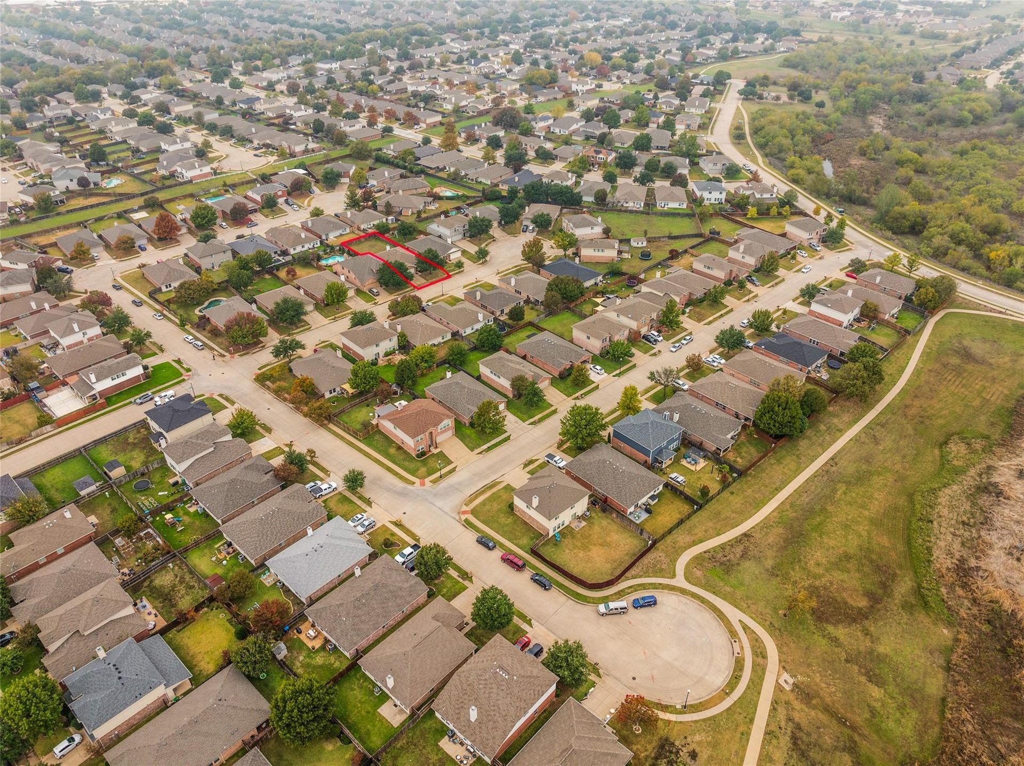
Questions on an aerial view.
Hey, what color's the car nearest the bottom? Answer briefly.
white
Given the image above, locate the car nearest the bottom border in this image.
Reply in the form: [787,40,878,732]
[47,732,87,763]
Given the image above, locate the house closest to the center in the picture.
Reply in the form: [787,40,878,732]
[471,350,547,401]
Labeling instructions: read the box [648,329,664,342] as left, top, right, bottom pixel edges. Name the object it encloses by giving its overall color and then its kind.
white vehicle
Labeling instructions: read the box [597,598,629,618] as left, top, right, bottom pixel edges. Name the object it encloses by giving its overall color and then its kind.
white car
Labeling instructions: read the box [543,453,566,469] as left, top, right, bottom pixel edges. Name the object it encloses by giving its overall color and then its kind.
white vehicle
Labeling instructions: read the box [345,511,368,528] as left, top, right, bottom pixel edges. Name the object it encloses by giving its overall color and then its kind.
white car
